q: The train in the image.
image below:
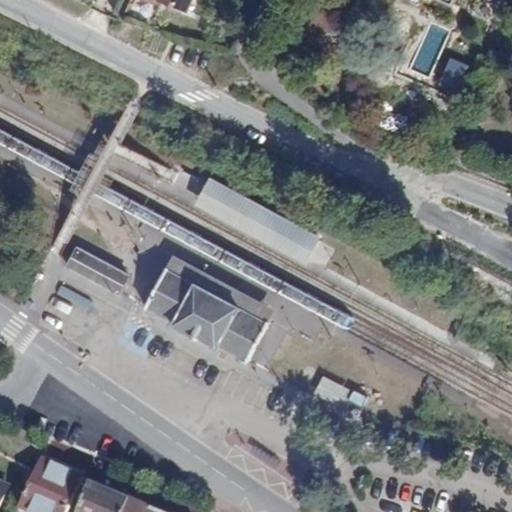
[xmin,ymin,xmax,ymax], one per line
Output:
[0,130,354,328]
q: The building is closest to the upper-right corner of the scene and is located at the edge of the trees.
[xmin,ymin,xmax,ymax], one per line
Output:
[440,58,469,83]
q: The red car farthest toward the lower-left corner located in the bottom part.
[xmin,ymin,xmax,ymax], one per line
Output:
[98,430,113,451]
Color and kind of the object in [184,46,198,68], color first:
gray car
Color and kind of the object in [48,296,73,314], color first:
white vehicle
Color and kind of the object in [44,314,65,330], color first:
white car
